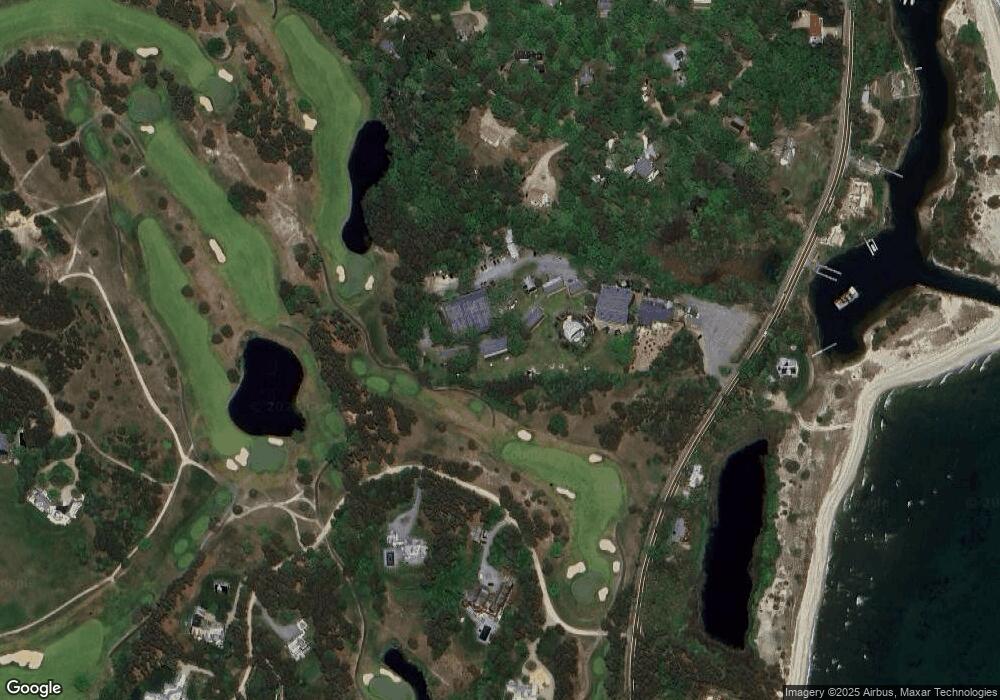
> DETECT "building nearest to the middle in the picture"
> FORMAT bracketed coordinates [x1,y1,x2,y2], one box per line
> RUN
[479,336,508,359]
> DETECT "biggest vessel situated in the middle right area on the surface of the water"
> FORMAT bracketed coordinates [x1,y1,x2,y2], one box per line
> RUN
[835,287,860,309]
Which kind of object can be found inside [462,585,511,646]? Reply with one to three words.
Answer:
house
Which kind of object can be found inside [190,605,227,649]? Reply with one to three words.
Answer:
house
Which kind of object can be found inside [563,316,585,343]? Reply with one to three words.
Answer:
building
